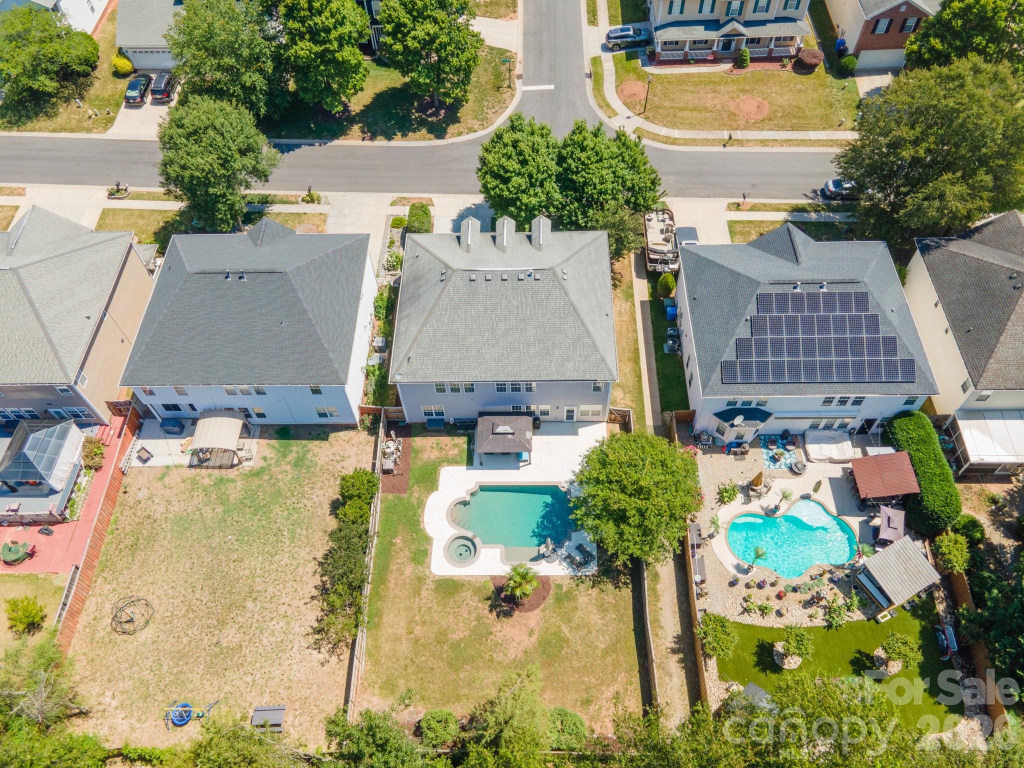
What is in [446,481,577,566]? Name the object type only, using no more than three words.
swimming pool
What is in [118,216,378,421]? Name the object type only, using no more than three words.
house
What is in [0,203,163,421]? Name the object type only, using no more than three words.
house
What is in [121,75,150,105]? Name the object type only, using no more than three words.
car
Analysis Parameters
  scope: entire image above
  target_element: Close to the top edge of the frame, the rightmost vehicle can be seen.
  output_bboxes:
[606,25,651,50]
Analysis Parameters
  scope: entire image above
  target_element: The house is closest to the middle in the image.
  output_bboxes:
[386,215,621,420]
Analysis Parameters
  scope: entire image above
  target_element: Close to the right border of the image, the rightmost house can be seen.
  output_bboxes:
[898,209,1024,477]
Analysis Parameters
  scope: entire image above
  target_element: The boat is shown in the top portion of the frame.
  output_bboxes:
[645,204,680,274]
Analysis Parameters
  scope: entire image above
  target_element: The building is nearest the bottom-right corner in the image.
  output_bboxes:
[851,539,941,613]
